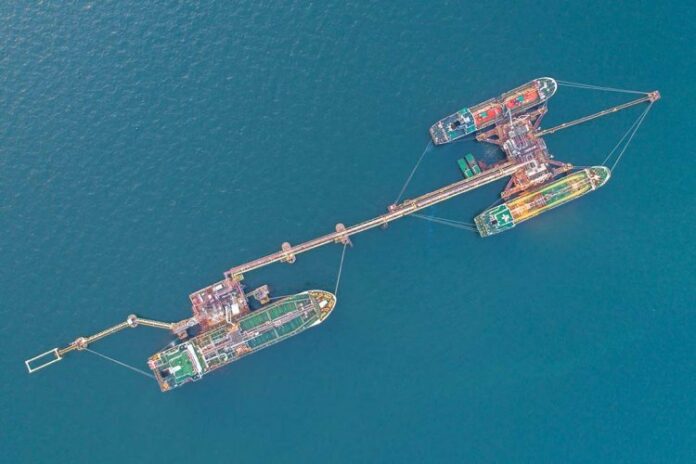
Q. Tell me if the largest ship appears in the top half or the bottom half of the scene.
bottom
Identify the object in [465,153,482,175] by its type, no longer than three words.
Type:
boat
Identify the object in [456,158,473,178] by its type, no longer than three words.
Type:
boat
